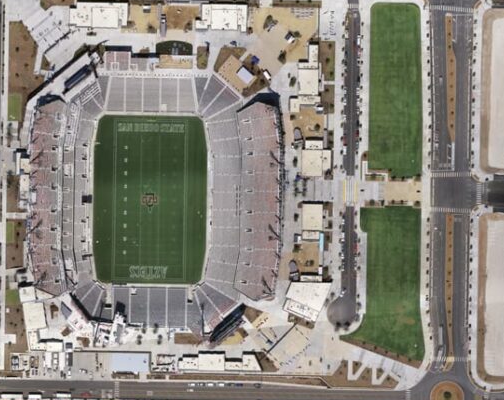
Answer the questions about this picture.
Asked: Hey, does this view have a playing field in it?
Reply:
Yes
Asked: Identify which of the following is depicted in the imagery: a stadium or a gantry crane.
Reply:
stadium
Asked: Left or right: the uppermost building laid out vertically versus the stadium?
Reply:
right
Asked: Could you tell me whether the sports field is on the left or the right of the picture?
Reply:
left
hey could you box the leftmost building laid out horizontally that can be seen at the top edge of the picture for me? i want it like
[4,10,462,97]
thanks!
[70,2,128,28]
